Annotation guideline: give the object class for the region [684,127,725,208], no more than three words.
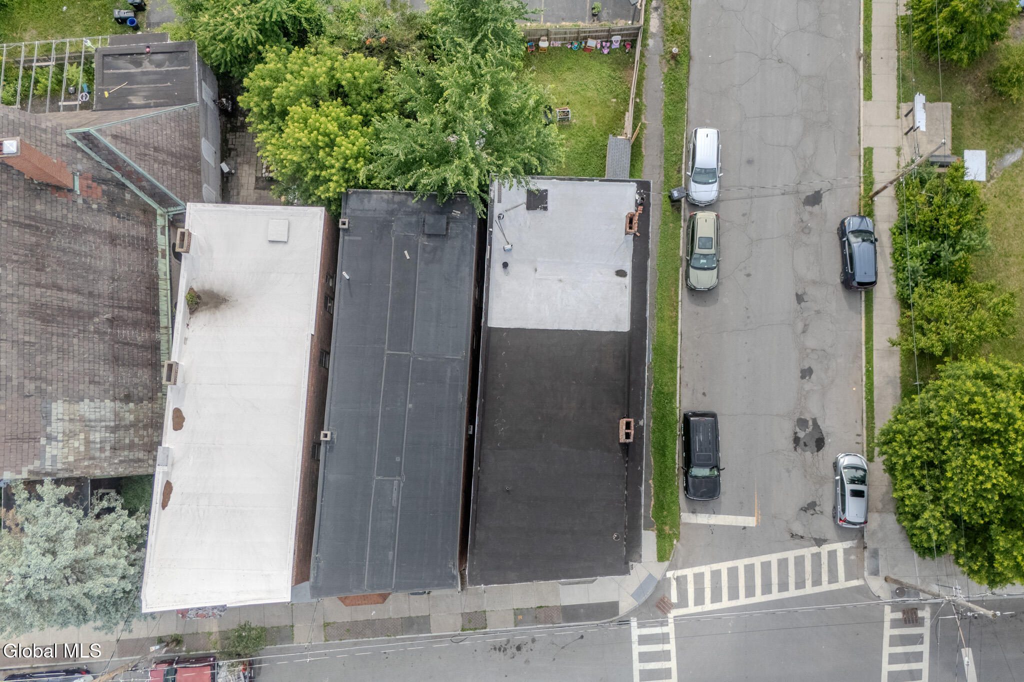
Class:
car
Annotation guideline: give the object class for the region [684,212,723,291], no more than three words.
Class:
car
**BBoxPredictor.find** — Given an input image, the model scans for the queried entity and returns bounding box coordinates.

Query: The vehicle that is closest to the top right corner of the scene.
[837,215,881,293]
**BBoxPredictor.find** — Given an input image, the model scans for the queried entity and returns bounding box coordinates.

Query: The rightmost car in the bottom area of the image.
[830,449,875,531]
